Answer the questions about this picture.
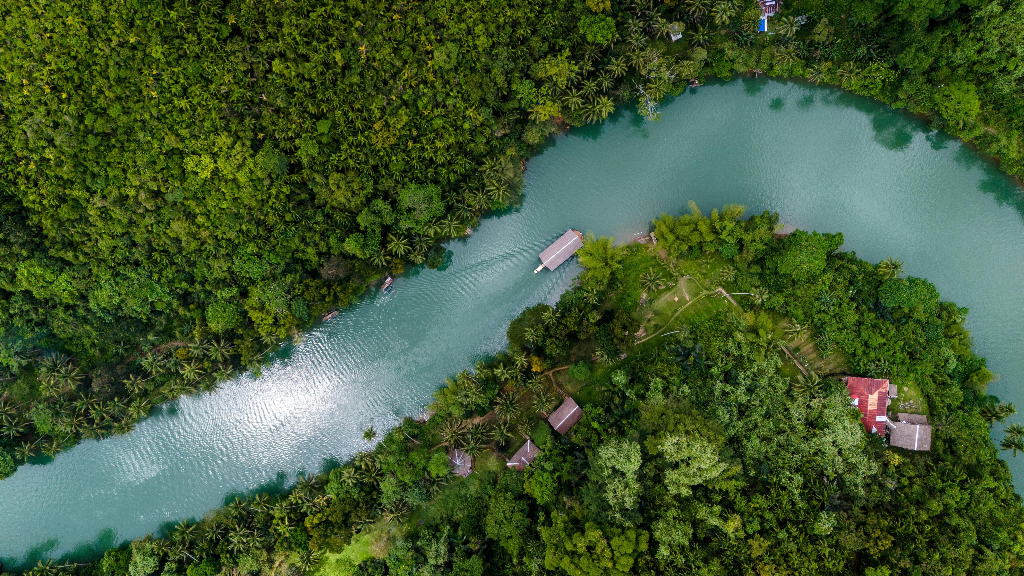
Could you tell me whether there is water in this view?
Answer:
Yes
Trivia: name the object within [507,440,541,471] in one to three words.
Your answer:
shed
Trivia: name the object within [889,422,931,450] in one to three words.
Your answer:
house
